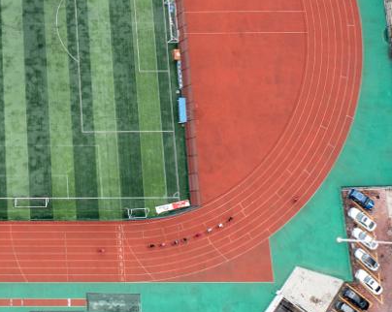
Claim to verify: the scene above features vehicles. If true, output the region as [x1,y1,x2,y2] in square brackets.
[340,285,369,311]
[352,248,381,272]
[350,227,379,252]
[347,186,376,211]
[354,270,383,295]
[333,299,357,312]
[348,208,377,231]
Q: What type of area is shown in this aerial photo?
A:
sports ground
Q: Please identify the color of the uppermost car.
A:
blue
